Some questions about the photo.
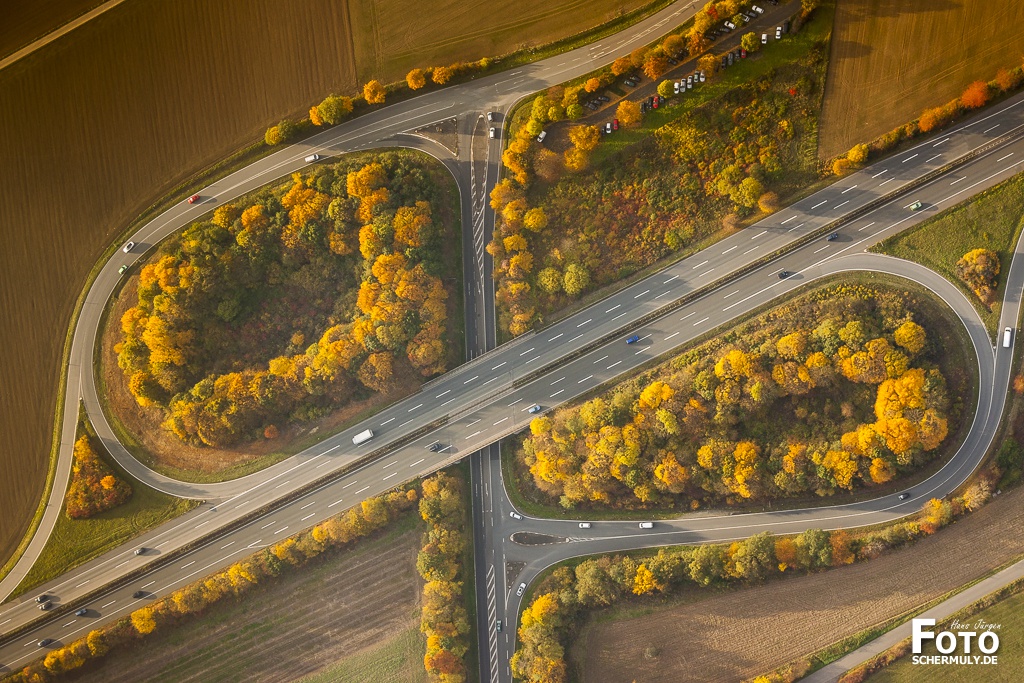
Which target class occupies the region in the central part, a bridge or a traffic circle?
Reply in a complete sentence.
What appears in the central part is a bridge.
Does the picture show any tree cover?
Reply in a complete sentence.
Yes, there is tree cover in the image.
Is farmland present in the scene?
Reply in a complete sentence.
Yes, there is farmland in the image.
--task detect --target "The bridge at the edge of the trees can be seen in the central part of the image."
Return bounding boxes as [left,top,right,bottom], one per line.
[422,327,542,477]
